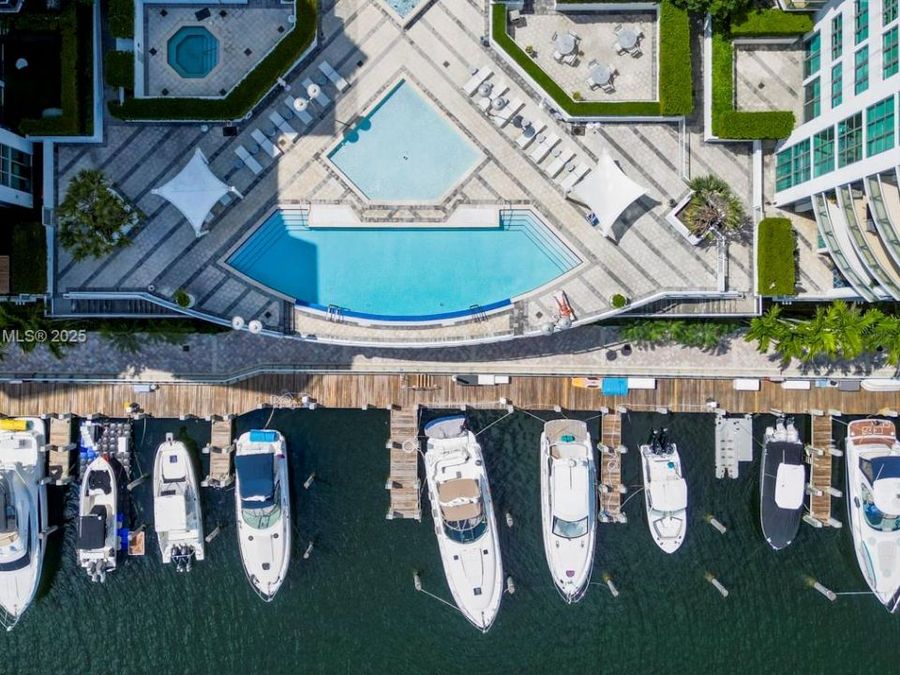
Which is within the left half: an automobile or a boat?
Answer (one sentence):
The one visible within the left half is a boat.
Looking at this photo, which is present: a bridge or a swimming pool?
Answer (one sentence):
Visible in the photo is a swimming pool.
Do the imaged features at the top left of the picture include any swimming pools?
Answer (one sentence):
Yes, there is a swimming pool at the top left of the picture.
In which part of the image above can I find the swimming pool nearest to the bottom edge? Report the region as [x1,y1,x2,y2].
[223,200,587,323]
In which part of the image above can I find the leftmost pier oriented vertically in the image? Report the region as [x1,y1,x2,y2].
[49,417,74,478]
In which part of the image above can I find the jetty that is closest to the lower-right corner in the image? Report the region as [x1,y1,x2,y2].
[809,416,831,524]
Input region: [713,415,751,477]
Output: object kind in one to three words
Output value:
pier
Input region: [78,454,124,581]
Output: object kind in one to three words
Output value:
boat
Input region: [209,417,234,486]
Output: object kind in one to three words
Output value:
pier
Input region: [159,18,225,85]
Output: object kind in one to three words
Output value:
swimming pool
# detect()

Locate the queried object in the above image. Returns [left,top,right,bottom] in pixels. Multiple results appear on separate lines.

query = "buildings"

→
[776,0,900,319]
[0,0,87,208]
